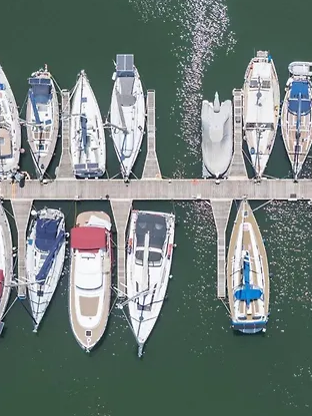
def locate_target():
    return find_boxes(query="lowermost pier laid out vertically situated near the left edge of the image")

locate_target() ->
[11,198,34,300]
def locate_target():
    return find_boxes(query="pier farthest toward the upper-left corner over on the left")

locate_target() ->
[55,89,75,178]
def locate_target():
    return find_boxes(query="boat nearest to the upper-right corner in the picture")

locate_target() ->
[289,61,312,76]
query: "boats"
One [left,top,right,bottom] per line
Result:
[222,196,273,334]
[0,66,23,178]
[5,64,62,182]
[0,198,20,331]
[278,73,312,184]
[235,48,285,182]
[69,199,120,355]
[289,61,312,76]
[2,198,70,334]
[100,54,148,184]
[55,66,109,180]
[114,198,177,357]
